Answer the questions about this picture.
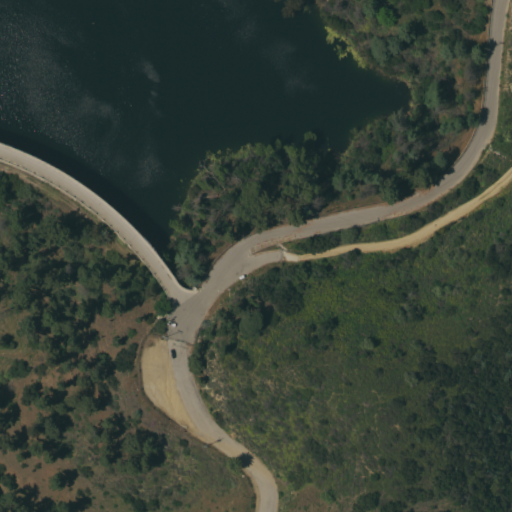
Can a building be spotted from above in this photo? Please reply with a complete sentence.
No, I can't see a single building in this photo.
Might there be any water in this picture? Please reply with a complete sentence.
Yes, there's water in this view.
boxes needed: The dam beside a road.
[0,144,199,312]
